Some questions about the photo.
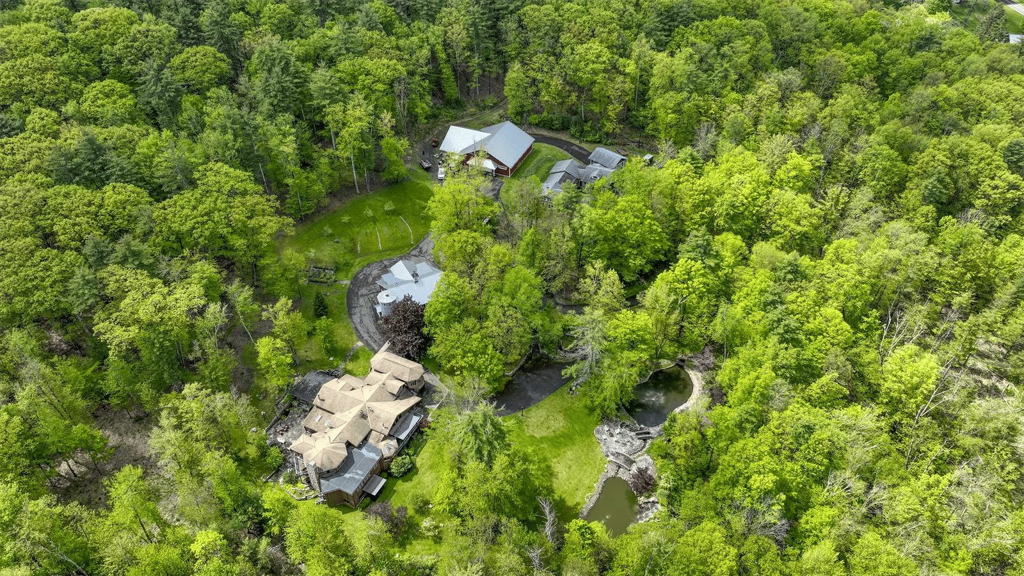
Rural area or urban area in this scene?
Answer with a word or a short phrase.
rural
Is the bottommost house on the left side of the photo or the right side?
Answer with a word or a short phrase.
left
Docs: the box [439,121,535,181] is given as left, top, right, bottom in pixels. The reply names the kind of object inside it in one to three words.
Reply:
barn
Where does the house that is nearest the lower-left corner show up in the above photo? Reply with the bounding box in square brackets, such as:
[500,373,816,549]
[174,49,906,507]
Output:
[289,341,424,507]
